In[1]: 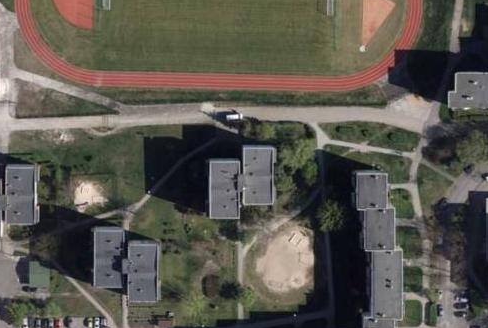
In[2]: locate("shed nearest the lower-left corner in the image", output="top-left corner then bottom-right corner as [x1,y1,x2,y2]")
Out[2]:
[30,261,51,288]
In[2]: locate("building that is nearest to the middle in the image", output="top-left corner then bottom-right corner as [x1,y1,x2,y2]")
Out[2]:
[210,146,279,220]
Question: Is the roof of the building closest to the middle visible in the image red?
No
